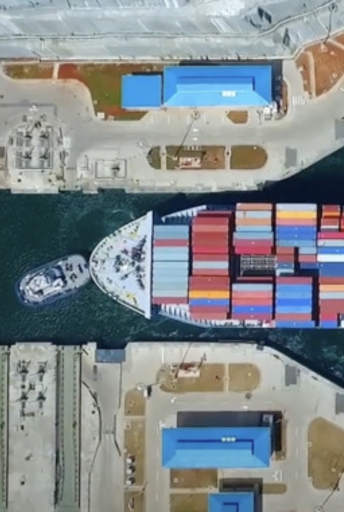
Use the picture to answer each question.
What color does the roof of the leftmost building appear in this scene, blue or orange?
blue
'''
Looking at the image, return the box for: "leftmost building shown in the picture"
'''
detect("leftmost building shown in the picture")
[121,75,163,107]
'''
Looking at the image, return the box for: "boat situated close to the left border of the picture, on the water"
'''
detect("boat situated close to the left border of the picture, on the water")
[14,257,93,305]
